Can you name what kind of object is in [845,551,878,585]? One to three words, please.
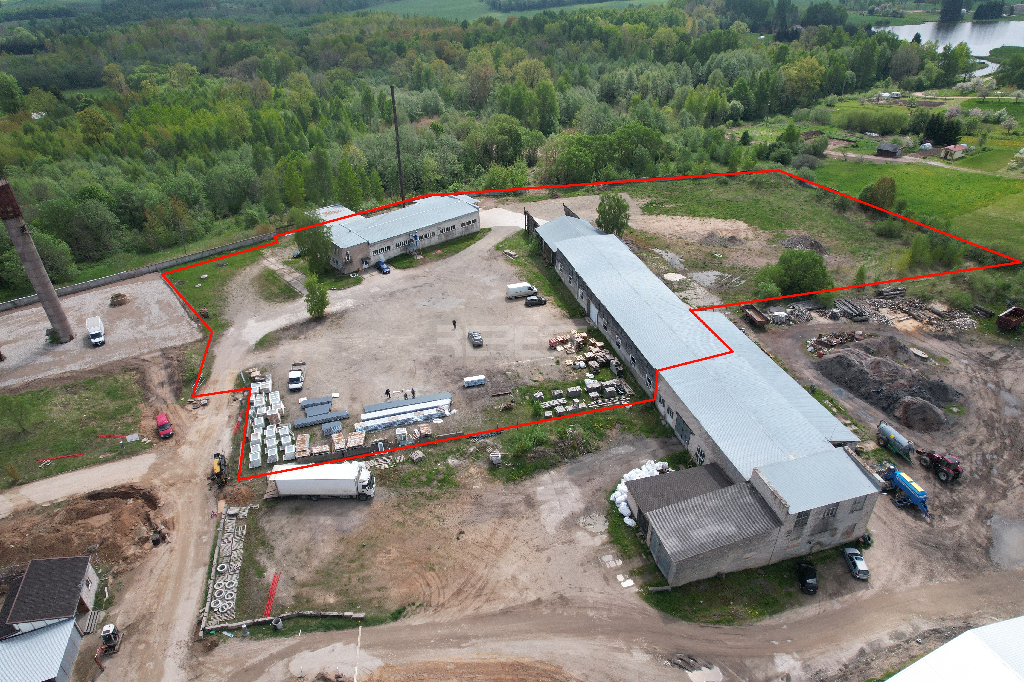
car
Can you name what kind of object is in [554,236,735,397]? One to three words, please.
shed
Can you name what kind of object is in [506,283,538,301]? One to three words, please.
vehicle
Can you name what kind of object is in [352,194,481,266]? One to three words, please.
building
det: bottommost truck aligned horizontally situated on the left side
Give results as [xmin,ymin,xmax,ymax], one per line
[266,463,377,501]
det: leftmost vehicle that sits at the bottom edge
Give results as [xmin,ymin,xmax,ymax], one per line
[86,624,122,682]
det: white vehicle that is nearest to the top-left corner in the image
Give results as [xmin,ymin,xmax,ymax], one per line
[83,314,106,347]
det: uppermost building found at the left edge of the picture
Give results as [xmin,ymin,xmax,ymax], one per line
[0,556,108,643]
